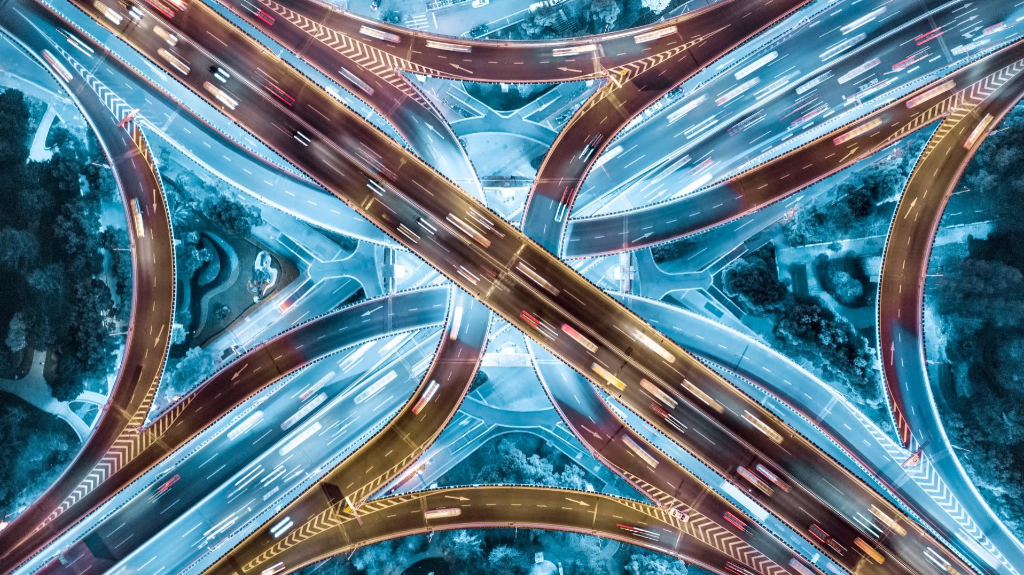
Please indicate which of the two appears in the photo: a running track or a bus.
bus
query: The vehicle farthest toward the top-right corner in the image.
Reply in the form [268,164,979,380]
[979,20,1005,38]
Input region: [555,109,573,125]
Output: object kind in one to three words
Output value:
car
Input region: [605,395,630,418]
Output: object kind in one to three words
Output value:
vehicle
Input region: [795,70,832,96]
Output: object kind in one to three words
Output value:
bus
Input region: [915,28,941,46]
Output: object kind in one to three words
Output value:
car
